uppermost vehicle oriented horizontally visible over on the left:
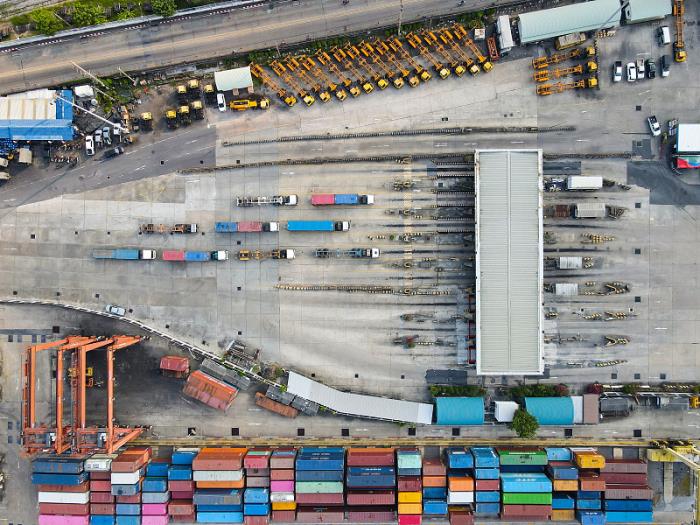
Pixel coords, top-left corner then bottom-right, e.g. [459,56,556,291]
[230,96,269,110]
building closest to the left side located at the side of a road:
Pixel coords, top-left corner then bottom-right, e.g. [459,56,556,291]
[0,88,81,142]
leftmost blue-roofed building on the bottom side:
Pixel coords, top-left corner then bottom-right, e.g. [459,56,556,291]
[435,394,485,425]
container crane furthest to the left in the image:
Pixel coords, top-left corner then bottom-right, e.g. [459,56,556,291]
[17,336,103,457]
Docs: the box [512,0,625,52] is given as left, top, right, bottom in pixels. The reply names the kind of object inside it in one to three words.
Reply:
building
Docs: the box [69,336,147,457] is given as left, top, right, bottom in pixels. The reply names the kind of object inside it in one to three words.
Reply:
container crane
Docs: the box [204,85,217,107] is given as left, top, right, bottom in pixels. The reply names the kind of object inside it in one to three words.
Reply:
vehicle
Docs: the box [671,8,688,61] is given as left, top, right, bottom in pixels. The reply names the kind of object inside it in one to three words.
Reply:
vehicle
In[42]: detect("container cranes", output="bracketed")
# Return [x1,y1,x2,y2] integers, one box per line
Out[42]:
[649,442,700,525]
[17,336,103,457]
[69,336,147,457]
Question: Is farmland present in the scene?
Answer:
No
